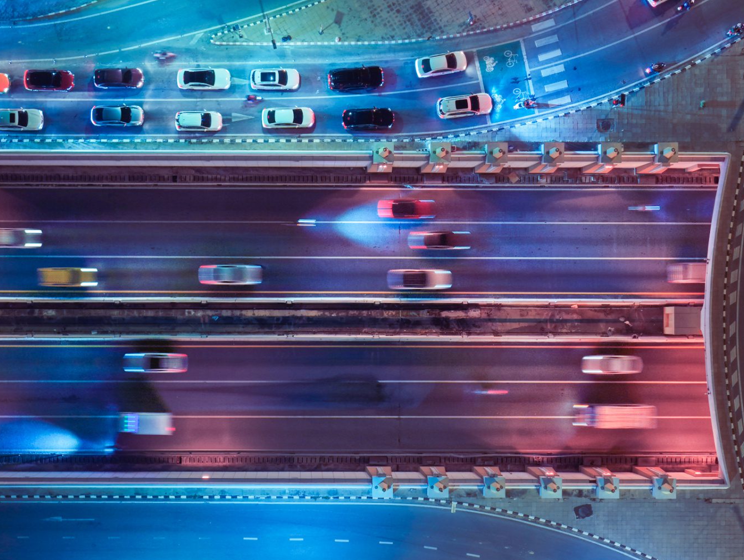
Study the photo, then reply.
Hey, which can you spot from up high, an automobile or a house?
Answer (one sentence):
It is an automobile that can be seen here.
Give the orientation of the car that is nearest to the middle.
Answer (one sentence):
I'd say the car that is nearest to the middle is aligned horizontally in the picture.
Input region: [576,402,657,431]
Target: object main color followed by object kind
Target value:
pink truck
